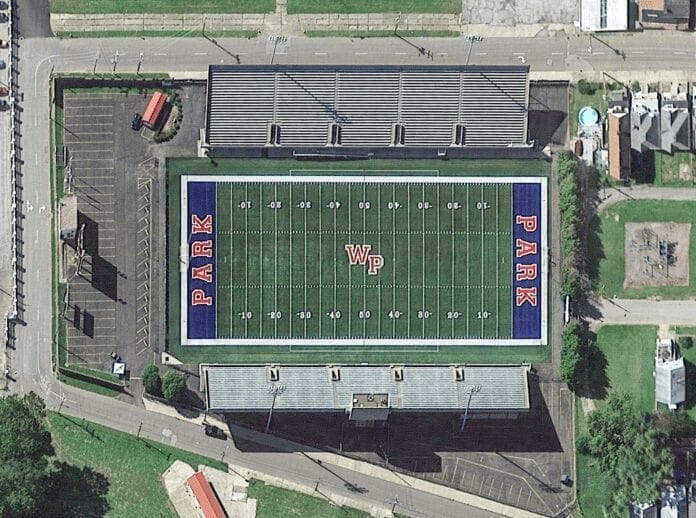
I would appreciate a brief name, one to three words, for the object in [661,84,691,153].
house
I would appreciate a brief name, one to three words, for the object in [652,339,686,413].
house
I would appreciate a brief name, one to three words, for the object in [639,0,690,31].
building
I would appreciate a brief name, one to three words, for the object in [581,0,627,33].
building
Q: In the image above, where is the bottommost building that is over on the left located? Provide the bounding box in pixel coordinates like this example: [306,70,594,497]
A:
[187,472,226,518]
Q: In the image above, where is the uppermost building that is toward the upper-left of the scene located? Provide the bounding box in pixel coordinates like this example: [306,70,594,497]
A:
[143,92,168,129]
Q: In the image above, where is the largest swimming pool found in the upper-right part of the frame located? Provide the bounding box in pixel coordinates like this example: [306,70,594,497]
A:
[581,107,600,126]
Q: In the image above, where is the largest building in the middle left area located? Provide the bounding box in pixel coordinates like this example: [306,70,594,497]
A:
[58,196,77,243]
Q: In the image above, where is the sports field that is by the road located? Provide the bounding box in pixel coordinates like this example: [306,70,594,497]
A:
[166,157,551,364]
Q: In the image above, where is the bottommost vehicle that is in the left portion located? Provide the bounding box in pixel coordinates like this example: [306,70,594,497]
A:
[207,427,226,439]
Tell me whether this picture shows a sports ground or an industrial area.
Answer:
sports ground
